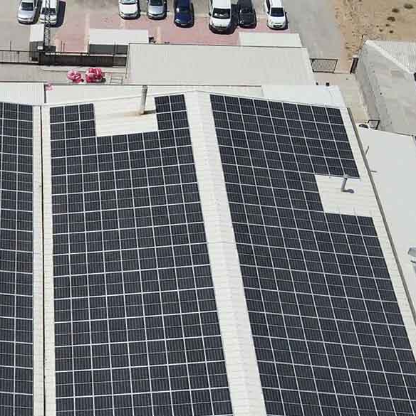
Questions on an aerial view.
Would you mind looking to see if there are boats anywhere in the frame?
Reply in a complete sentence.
No, this view has no boat in it.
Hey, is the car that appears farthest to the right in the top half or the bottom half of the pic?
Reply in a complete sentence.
You can find the car that appears farthest to the right in the top half.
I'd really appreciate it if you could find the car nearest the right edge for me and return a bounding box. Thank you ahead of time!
[260,0,288,30]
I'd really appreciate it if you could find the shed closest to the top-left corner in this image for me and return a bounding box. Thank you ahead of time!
[28,27,52,61]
